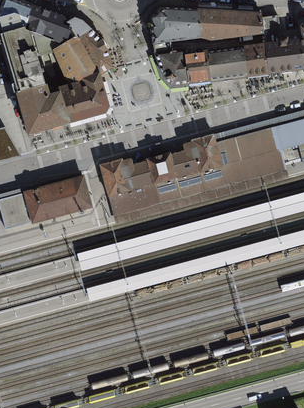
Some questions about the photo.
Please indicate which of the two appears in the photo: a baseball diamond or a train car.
train car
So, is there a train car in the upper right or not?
No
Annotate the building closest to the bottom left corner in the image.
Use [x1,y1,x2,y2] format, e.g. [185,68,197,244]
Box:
[0,194,31,228]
